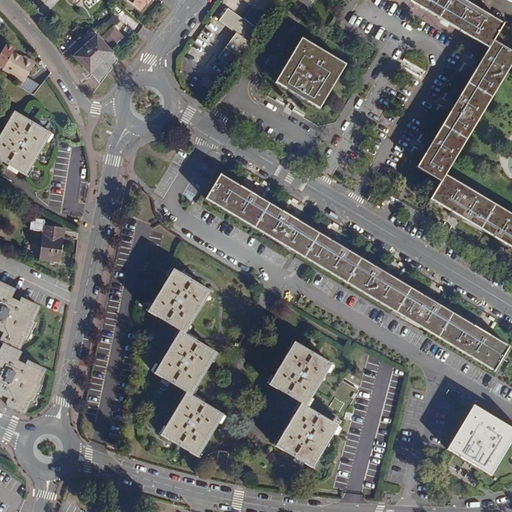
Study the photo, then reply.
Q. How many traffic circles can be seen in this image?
2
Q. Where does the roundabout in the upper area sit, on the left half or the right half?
left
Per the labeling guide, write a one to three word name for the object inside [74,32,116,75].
house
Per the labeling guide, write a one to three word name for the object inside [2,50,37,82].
house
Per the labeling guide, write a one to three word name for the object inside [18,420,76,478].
roundabout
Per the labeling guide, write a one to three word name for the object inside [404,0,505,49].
building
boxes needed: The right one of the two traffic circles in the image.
[117,72,177,132]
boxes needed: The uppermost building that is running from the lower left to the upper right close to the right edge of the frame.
[414,42,512,182]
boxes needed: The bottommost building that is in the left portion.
[158,392,227,458]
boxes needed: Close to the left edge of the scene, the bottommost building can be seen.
[0,341,47,414]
